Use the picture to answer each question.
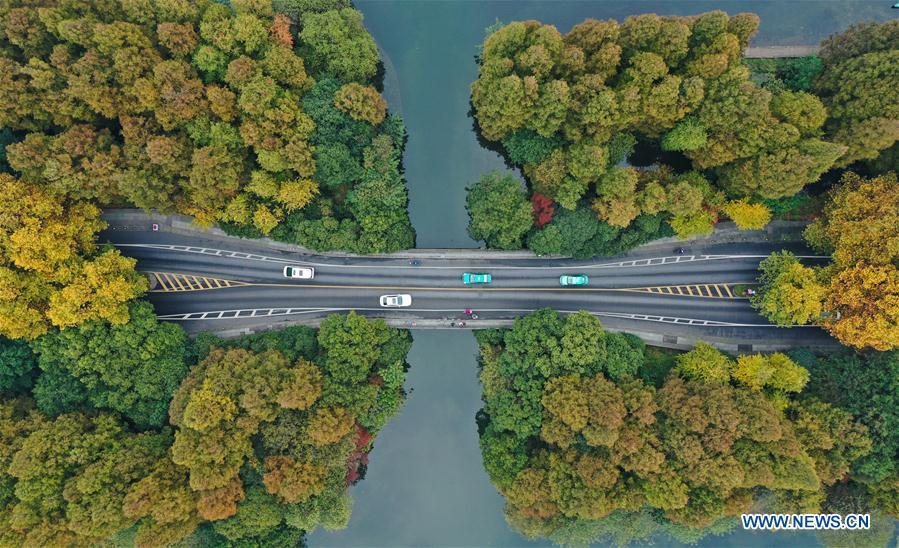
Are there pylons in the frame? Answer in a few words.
No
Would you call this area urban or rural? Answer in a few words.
rural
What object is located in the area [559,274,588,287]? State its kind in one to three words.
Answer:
vehicle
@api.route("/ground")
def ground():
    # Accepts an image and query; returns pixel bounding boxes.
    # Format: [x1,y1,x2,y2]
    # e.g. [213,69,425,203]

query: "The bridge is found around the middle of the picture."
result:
[397,248,499,329]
